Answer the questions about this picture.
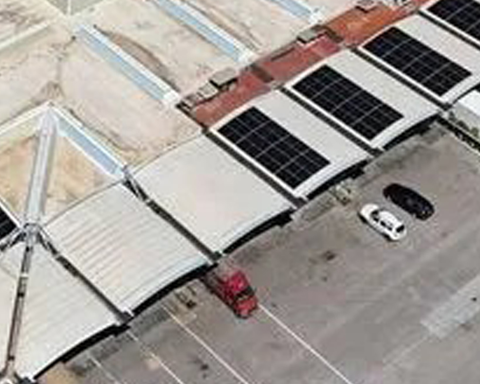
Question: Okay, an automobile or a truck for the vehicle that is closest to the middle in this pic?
truck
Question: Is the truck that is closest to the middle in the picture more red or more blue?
red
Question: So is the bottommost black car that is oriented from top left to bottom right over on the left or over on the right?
right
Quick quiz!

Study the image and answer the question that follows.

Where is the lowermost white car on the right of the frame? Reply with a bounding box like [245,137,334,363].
[361,202,406,236]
